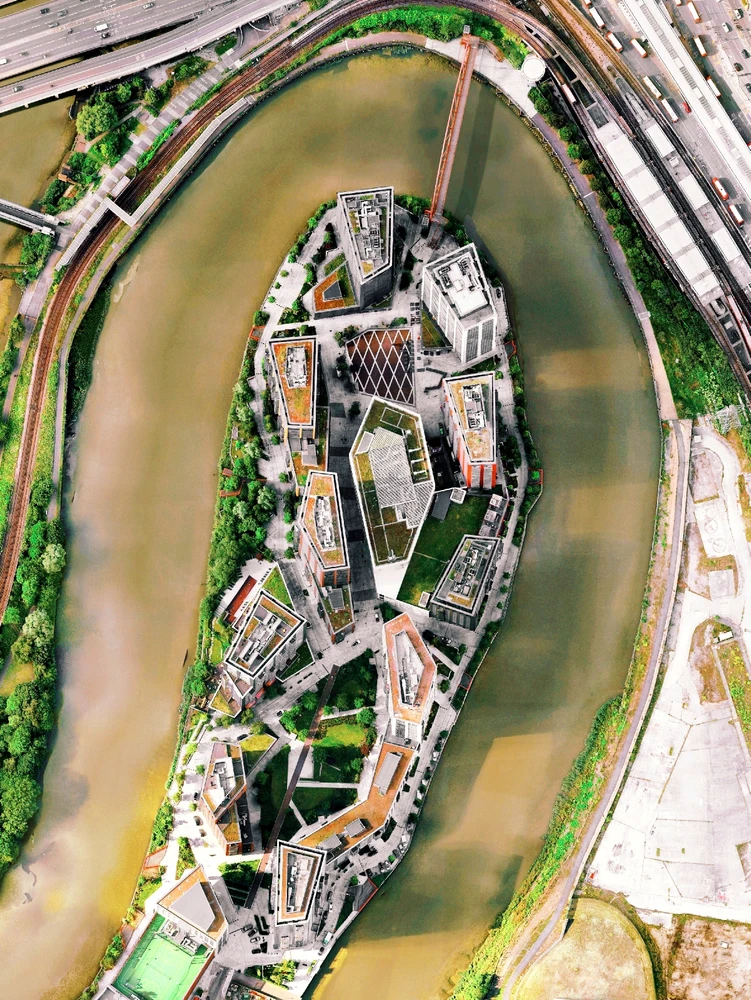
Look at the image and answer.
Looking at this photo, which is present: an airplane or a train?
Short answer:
train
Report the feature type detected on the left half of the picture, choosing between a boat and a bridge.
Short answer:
bridge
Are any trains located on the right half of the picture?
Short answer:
Yes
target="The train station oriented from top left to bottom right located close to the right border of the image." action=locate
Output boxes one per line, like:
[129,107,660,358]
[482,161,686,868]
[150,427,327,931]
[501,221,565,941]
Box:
[596,82,751,312]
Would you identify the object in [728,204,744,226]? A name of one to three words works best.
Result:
vehicle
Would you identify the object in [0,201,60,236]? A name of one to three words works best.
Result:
bridge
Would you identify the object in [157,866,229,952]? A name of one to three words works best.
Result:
building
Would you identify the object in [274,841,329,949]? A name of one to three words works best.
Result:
building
